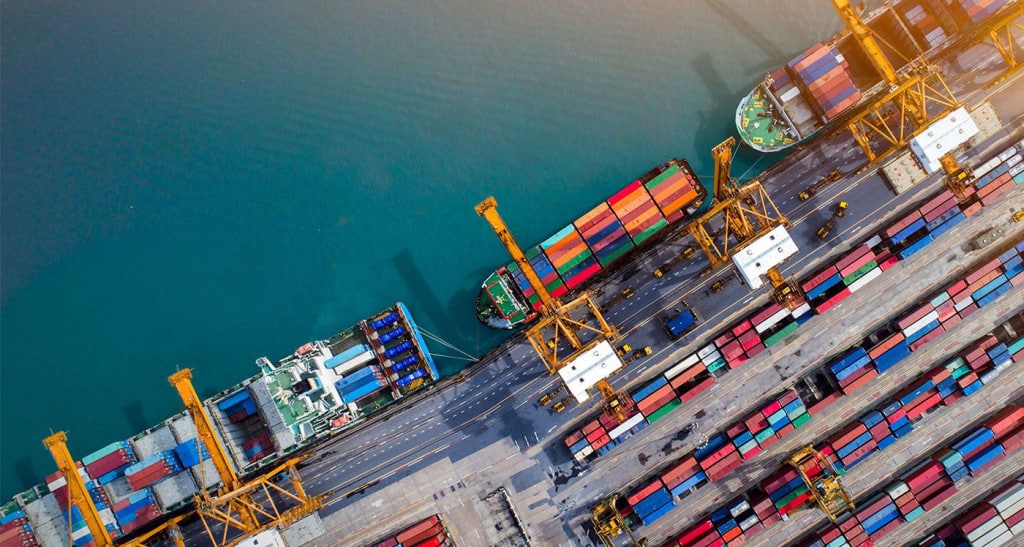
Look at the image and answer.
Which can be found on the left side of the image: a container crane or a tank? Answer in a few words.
container crane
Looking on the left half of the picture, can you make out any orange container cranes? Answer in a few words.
Yes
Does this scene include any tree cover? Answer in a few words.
No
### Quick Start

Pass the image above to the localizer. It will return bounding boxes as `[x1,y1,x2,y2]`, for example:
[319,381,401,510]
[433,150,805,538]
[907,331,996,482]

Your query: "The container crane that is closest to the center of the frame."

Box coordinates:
[474,190,632,419]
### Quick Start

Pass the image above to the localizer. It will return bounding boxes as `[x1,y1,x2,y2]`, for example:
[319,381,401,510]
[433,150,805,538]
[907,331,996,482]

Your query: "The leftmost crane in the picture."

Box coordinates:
[38,426,220,547]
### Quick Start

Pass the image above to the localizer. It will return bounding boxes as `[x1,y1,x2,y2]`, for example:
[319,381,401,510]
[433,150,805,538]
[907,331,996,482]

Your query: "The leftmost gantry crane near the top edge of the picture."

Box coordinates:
[815,0,984,201]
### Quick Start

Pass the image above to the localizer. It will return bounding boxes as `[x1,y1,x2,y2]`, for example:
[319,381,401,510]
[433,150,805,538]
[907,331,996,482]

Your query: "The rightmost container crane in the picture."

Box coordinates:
[949,9,1024,94]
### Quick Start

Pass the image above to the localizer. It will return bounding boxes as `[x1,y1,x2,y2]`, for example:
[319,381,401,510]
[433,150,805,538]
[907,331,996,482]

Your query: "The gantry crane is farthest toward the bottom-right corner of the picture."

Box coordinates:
[777,439,856,521]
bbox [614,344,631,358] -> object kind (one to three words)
work vehicle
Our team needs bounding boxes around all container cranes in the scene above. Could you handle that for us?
[165,364,333,547]
[474,190,632,419]
[949,9,1024,94]
[579,485,645,547]
[777,439,856,521]
[815,0,984,201]
[38,426,220,547]
[667,129,803,309]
